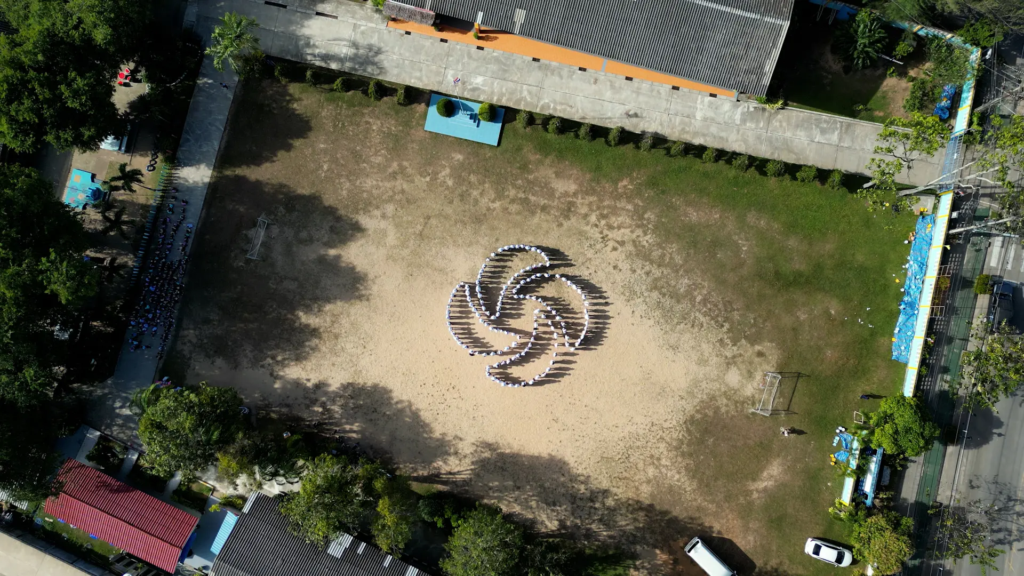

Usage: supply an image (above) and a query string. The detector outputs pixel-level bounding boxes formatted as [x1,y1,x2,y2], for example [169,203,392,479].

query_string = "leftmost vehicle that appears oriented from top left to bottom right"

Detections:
[683,535,737,576]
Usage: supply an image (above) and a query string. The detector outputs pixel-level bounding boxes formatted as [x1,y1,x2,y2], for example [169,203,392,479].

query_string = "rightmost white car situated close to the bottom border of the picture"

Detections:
[804,538,852,567]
